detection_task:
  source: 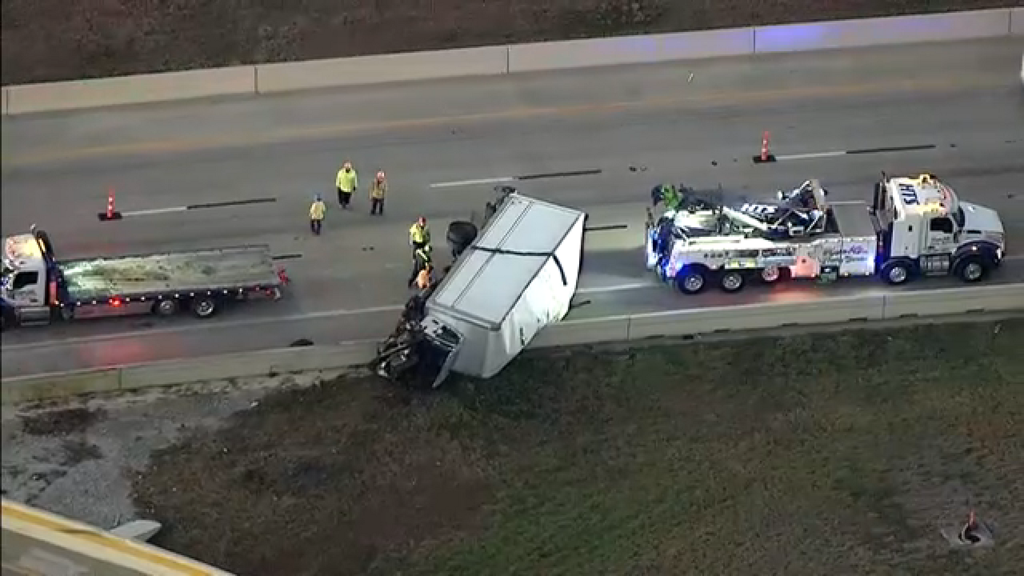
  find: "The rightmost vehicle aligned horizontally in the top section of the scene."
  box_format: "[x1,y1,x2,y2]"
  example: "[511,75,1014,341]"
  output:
[642,168,1006,292]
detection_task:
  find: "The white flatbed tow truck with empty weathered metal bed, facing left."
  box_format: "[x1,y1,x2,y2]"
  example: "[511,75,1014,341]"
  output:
[0,221,288,333]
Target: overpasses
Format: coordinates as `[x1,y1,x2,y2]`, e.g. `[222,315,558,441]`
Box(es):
[0,498,233,576]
